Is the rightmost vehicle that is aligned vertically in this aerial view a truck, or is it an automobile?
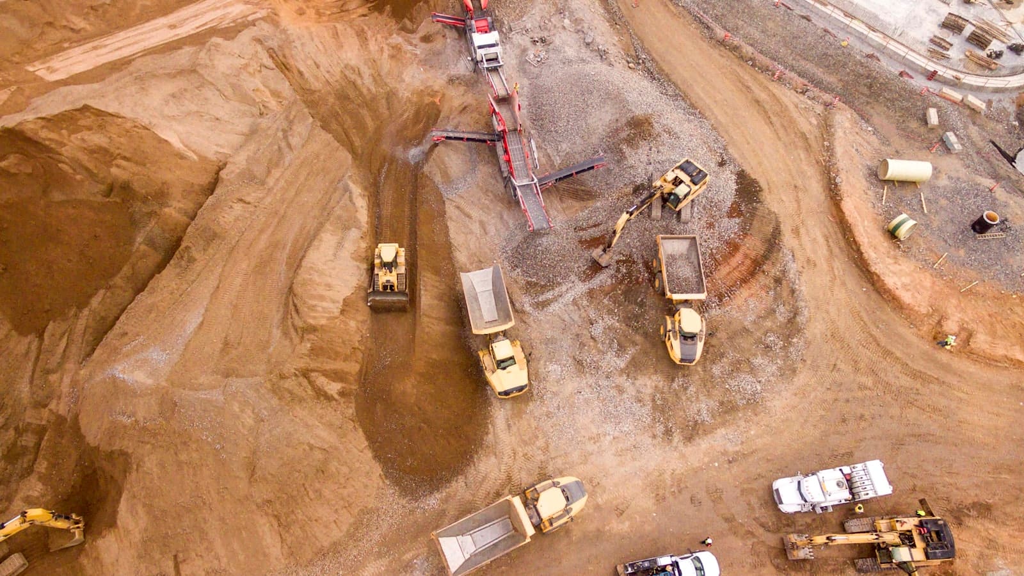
truck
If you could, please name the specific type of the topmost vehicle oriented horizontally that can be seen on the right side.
truck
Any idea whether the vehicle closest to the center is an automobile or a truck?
truck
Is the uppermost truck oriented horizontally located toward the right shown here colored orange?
No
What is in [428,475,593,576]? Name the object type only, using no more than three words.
truck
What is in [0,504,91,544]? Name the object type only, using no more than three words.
work vehicle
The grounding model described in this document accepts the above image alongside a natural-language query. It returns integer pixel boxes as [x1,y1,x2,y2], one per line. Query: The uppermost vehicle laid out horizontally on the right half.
[766,460,901,518]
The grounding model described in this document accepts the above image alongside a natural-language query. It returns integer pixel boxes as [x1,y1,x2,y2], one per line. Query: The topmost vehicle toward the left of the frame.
[359,240,408,312]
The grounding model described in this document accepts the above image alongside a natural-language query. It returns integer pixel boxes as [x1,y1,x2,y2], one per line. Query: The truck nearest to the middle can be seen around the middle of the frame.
[457,261,529,402]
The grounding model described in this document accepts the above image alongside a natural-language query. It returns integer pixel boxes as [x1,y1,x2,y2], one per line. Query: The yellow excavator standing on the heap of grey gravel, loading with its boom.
[596,157,710,264]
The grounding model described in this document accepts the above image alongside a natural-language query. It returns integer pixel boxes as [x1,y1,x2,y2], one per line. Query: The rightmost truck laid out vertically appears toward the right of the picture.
[654,231,711,366]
